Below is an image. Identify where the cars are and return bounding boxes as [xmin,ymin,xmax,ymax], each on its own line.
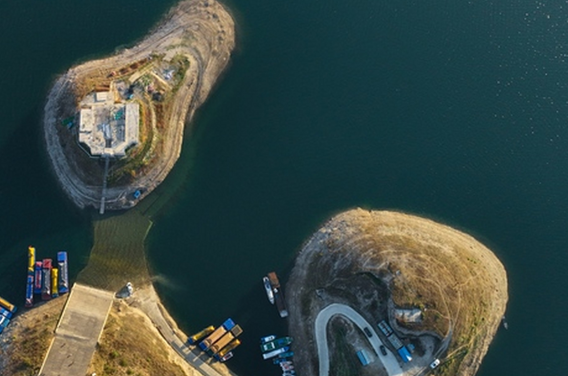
[380,346,387,356]
[364,328,373,339]
[430,359,440,370]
